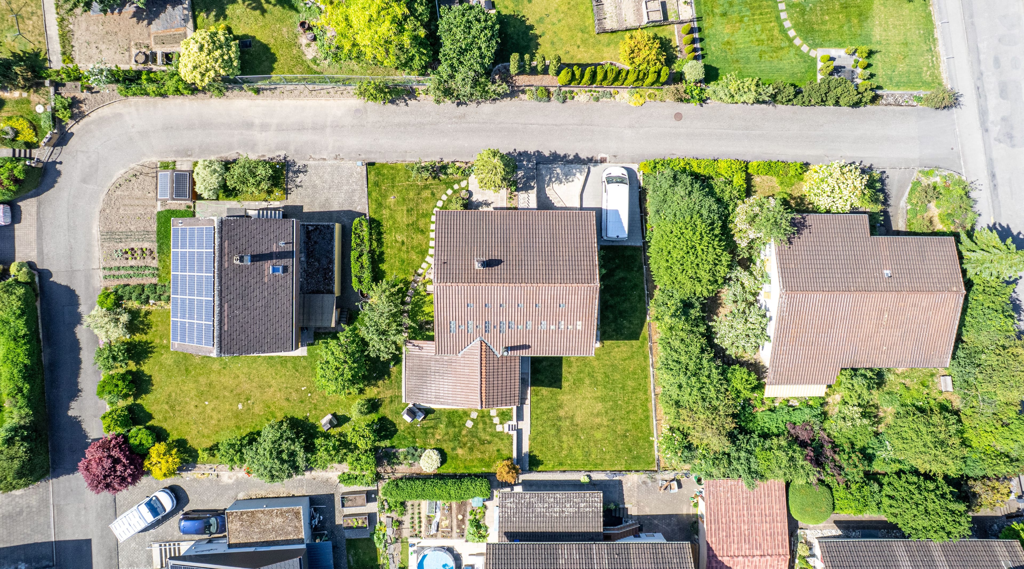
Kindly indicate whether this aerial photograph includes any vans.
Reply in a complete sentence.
Yes, this view includes a van.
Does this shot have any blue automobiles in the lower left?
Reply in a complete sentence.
Yes, I can see a blue automobile in the lower left.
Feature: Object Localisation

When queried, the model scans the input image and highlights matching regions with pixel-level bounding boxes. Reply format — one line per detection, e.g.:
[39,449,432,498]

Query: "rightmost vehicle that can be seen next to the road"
[600,169,629,241]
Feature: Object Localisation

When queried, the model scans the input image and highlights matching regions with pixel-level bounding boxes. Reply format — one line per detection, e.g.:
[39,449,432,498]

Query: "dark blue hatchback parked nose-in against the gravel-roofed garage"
[177,512,227,538]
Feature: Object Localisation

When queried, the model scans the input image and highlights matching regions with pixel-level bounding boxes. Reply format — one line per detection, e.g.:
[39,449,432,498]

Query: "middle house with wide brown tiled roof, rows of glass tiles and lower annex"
[402,209,600,410]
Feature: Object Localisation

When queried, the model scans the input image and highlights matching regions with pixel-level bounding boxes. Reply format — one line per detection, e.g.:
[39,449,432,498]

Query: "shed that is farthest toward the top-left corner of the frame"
[157,169,202,201]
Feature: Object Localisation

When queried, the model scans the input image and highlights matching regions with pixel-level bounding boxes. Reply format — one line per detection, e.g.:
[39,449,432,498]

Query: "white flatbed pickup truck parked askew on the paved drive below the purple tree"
[108,489,180,545]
